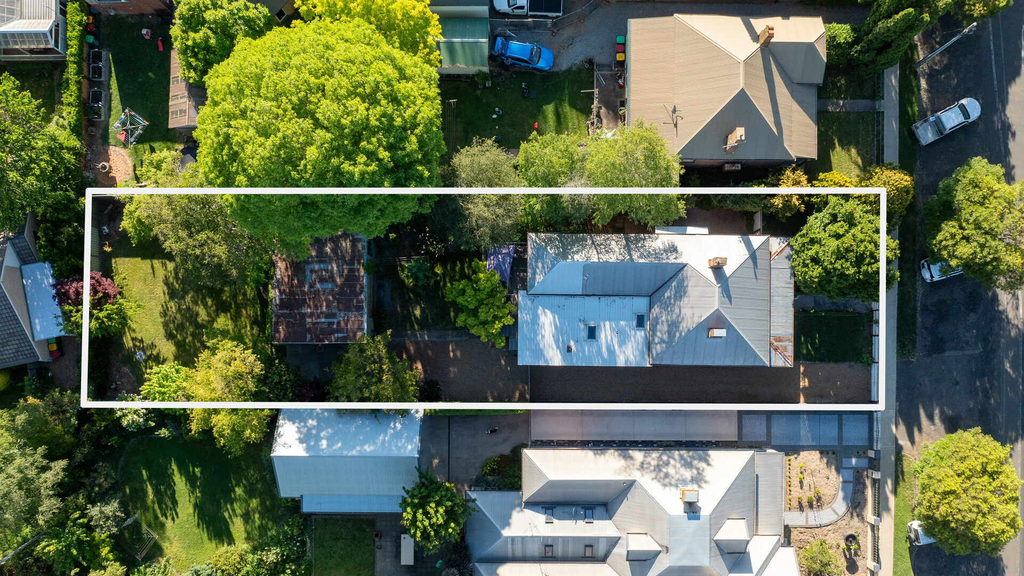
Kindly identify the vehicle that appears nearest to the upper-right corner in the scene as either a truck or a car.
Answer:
truck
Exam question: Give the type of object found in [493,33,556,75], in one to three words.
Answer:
car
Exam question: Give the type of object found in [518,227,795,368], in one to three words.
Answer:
house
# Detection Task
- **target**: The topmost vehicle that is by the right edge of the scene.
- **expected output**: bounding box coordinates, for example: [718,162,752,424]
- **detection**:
[908,97,984,150]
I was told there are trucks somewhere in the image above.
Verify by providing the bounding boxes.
[492,0,566,21]
[908,97,984,150]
